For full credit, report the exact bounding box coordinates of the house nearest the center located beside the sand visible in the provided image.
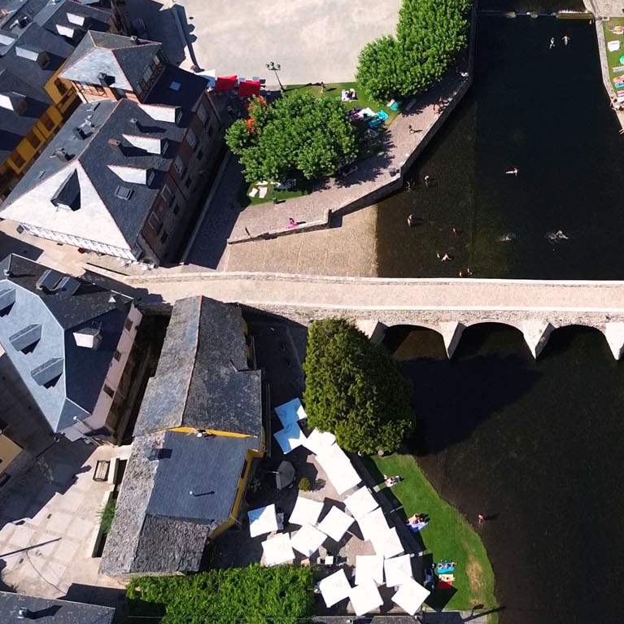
[132,297,274,454]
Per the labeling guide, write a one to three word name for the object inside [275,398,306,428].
umbrella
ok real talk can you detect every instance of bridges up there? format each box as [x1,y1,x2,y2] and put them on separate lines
[117,270,624,363]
